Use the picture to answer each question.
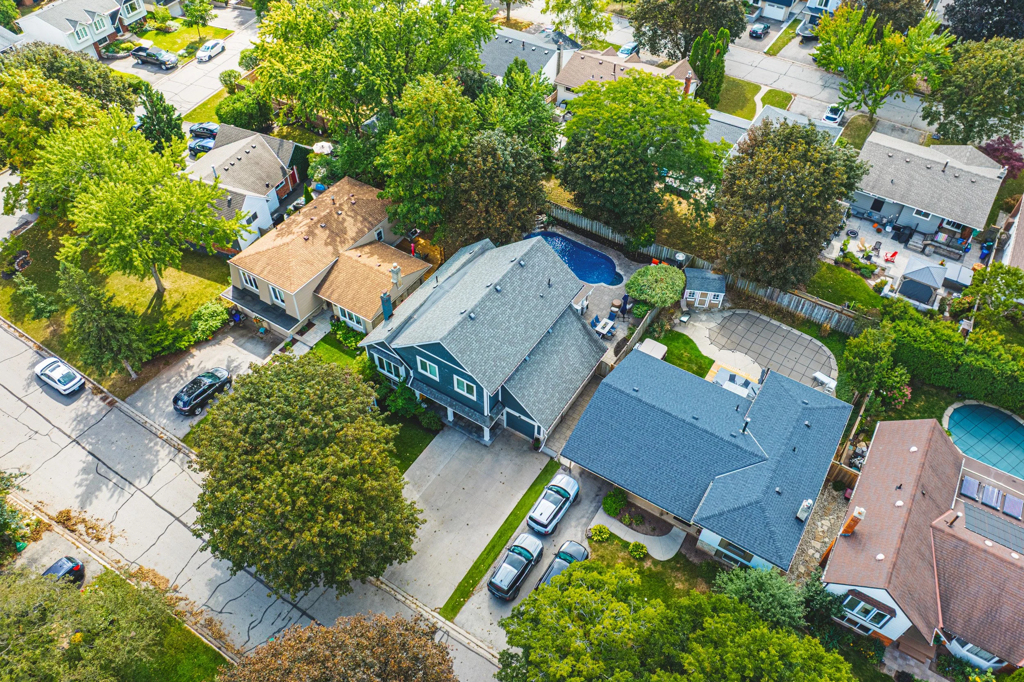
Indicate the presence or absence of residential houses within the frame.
Yes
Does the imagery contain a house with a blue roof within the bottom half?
Yes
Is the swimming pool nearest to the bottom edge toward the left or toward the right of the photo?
right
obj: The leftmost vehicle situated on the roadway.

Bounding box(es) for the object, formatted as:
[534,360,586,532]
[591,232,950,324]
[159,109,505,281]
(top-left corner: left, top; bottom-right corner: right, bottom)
[31,361,89,402]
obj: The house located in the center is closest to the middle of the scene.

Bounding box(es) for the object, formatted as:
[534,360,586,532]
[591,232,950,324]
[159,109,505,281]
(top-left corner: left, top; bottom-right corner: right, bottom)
[358,238,613,462]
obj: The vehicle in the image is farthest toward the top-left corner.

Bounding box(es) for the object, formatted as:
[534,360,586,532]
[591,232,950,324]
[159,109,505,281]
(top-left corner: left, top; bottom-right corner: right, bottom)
[129,45,179,69]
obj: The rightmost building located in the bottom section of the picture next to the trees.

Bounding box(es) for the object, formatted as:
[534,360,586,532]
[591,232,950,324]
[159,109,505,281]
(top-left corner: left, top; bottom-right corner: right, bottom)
[806,417,1024,682]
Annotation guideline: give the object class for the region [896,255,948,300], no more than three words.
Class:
gazebo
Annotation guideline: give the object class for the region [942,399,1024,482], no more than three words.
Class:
swimming pool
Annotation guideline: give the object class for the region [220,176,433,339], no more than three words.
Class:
house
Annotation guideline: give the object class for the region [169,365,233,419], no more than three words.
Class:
car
